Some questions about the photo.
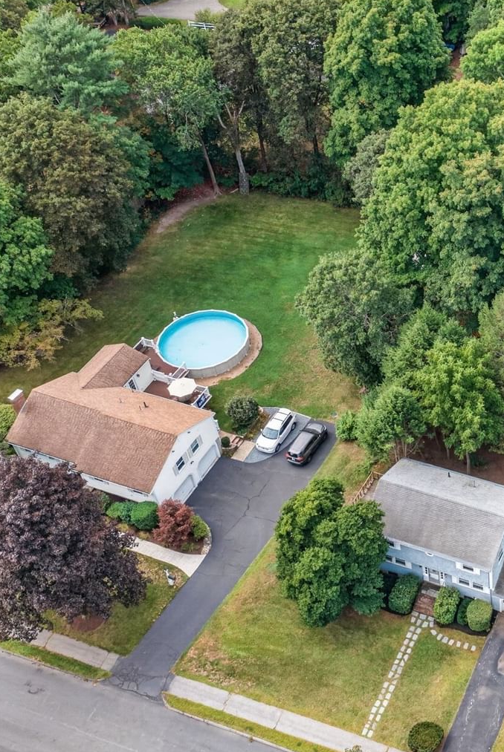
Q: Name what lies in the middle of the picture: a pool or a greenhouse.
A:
pool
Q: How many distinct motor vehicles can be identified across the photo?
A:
2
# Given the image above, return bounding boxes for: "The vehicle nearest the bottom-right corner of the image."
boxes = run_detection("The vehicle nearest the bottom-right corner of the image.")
[289,424,329,464]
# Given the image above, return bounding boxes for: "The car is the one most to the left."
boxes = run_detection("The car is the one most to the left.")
[257,412,296,454]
